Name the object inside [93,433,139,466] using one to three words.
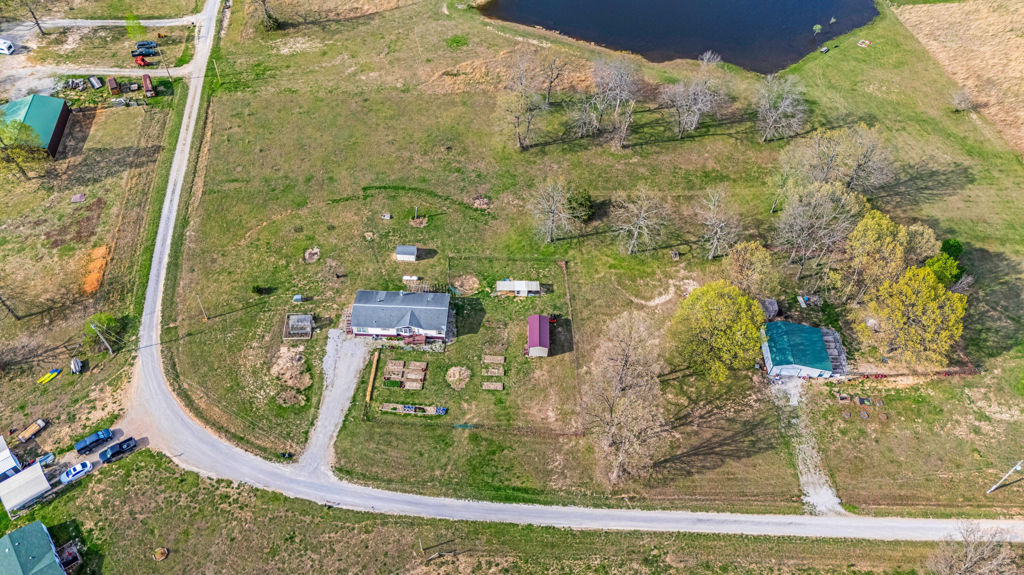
truck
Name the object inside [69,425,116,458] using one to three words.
truck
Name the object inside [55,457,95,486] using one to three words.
car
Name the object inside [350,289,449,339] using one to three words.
house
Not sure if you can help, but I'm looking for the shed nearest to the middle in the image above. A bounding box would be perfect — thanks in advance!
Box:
[497,281,540,296]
